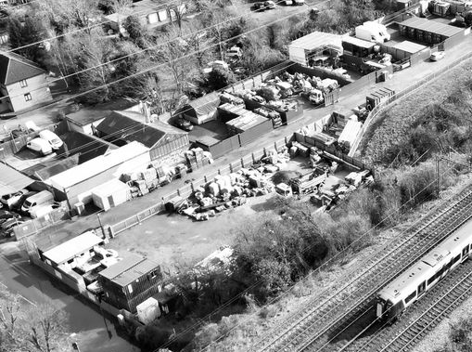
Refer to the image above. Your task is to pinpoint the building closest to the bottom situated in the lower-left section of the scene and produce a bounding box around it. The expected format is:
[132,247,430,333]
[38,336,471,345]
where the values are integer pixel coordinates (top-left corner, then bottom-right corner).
[82,241,160,305]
